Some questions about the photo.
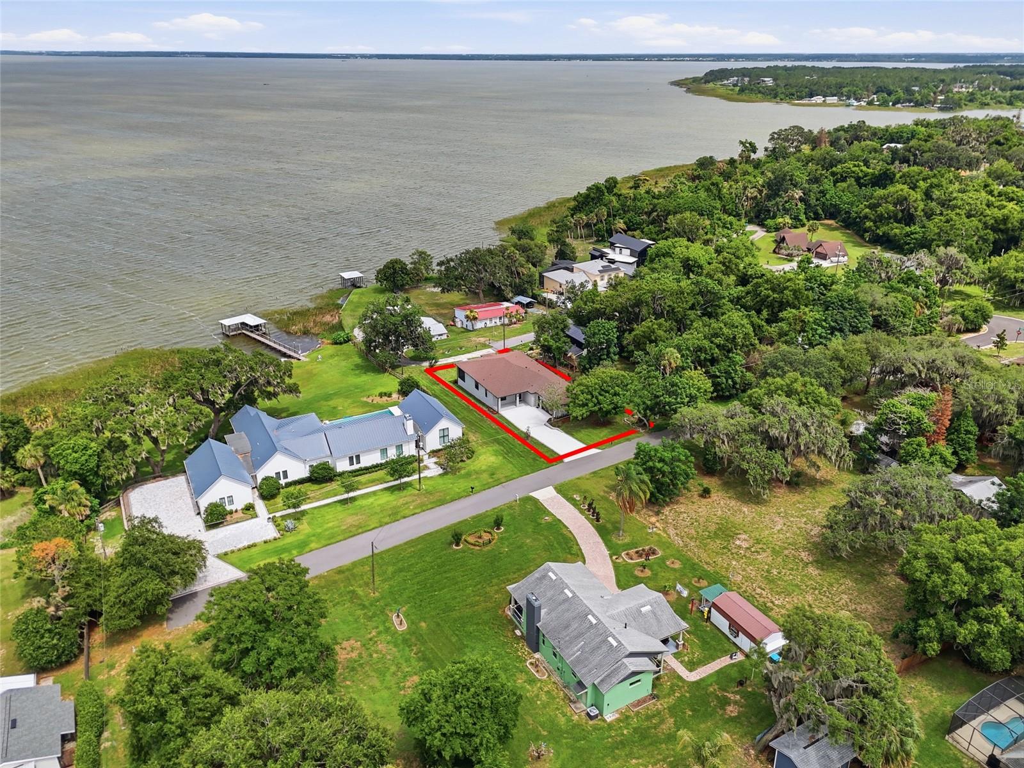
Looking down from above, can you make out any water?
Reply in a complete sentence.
Yes, water can be seen from above here.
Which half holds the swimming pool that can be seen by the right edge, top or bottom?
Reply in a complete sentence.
You can find the swimming pool that can be seen by the right edge in the bottom half.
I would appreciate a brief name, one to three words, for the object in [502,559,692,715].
building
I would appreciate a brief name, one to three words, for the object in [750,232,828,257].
house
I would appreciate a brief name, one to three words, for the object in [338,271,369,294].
building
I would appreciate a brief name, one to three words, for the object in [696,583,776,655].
shed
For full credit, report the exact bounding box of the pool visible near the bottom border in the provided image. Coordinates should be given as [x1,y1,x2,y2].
[976,707,1024,756]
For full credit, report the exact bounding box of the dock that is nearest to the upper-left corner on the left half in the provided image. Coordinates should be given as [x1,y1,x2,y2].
[216,312,309,362]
